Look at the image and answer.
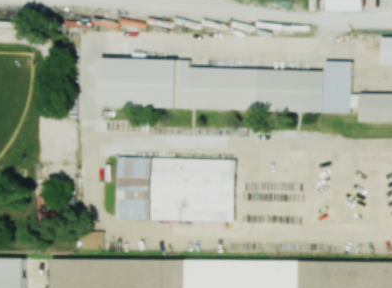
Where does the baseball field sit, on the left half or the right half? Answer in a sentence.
The baseball field sits on the left side.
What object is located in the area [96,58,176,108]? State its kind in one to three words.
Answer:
building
